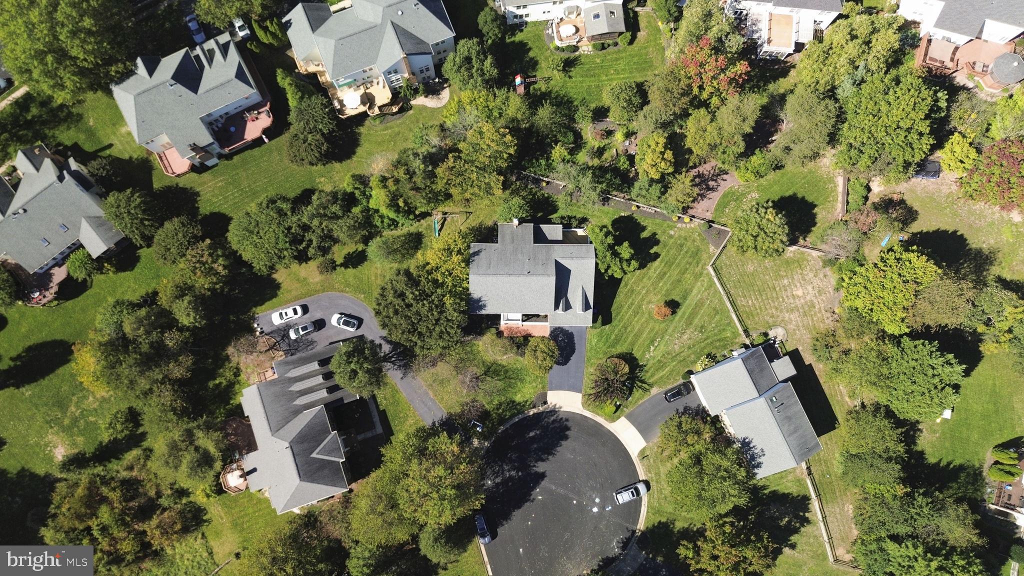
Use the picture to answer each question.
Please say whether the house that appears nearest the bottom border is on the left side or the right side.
right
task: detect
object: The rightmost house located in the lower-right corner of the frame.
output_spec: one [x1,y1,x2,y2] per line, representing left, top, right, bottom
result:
[976,458,1024,527]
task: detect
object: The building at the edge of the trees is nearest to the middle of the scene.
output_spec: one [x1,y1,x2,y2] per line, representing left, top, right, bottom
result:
[469,219,596,327]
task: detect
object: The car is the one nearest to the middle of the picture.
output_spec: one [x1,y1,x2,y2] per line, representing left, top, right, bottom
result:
[330,313,361,332]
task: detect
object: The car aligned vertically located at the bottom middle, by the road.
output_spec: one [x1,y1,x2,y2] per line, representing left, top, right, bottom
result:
[474,512,493,545]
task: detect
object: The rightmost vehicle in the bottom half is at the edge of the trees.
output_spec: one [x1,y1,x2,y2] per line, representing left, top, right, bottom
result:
[662,382,695,403]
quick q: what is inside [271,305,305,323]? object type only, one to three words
car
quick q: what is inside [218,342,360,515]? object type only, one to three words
house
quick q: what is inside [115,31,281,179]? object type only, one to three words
house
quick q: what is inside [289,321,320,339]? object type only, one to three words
car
